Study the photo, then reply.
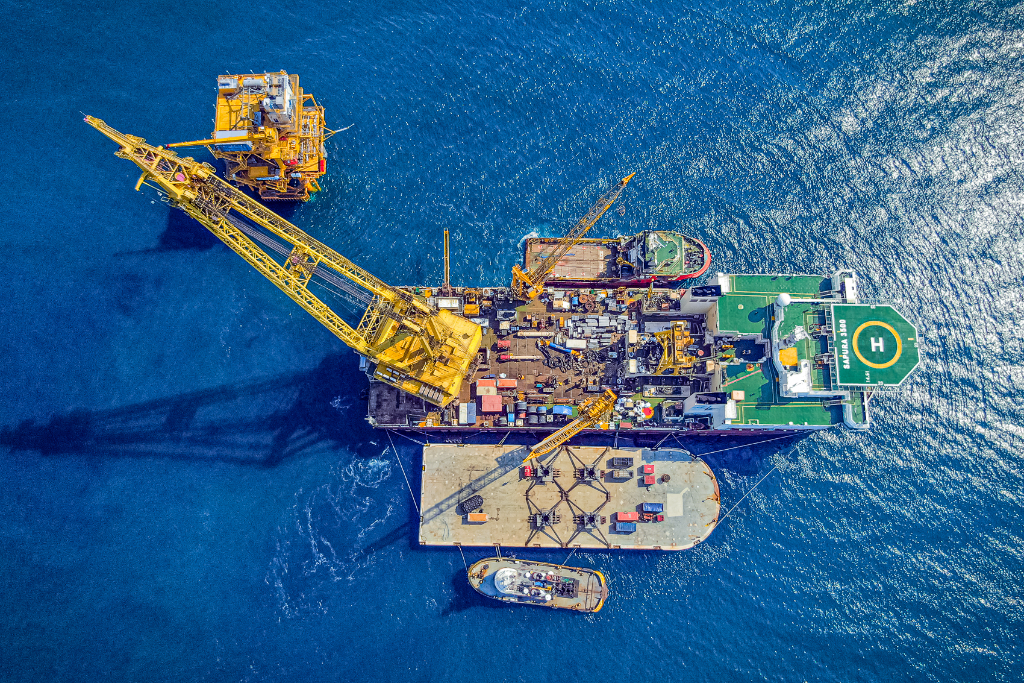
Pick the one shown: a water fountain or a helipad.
helipad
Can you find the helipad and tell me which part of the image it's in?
right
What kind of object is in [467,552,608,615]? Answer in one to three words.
boat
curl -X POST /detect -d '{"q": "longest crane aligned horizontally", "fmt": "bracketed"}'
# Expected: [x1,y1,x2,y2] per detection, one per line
[165,126,288,165]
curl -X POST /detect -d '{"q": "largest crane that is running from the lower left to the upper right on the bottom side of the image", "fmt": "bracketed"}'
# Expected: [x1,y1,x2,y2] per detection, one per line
[521,385,617,465]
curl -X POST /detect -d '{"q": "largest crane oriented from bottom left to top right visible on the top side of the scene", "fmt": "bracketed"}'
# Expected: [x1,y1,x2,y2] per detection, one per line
[515,172,637,305]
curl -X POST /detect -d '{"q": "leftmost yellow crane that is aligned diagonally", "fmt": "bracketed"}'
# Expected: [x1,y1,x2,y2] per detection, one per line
[80,109,483,407]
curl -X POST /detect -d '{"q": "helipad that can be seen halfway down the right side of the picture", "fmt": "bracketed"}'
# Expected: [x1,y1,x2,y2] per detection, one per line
[826,299,928,398]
